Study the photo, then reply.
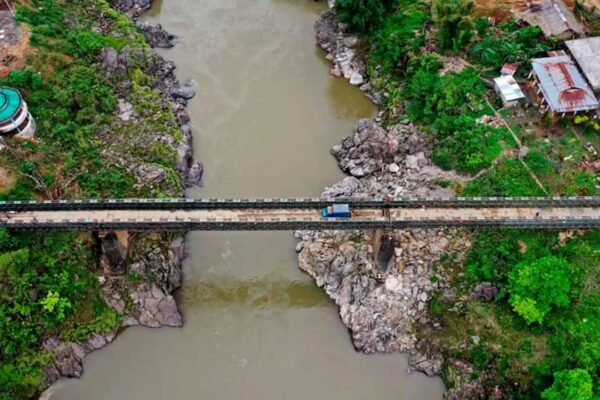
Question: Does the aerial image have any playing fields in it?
No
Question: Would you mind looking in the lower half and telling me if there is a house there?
No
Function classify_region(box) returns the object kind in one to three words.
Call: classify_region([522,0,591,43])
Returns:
house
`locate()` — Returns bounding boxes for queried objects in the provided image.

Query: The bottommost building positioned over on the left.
[0,87,35,145]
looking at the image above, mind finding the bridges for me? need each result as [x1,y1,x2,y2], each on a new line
[0,196,600,273]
